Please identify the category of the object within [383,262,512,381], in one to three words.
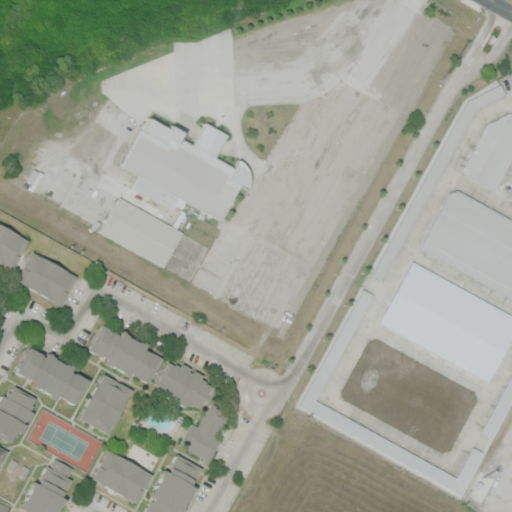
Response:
warehouse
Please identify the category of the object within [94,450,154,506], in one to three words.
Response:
building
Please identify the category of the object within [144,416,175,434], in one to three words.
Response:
swimming pool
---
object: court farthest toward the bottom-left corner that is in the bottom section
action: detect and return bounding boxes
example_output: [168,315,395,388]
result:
[26,410,102,474]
